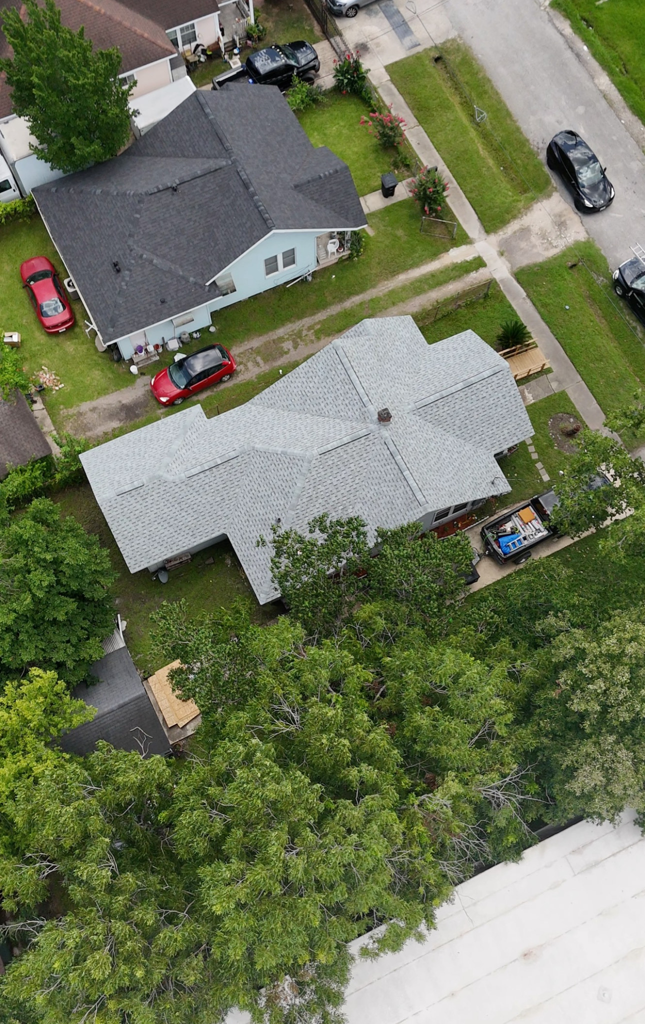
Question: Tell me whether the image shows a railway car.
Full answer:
No, I can't see a single railway car in this photo.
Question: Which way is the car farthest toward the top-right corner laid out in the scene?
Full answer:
The car farthest toward the top-right corner is oriented diagonally.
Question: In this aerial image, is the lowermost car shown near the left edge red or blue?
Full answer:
The lowermost car shown near the left edge is red.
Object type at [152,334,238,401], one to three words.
car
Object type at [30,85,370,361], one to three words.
house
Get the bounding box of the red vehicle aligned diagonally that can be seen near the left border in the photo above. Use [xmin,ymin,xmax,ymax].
[16,252,80,330]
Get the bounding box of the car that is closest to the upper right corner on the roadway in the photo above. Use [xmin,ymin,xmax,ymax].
[546,122,614,203]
